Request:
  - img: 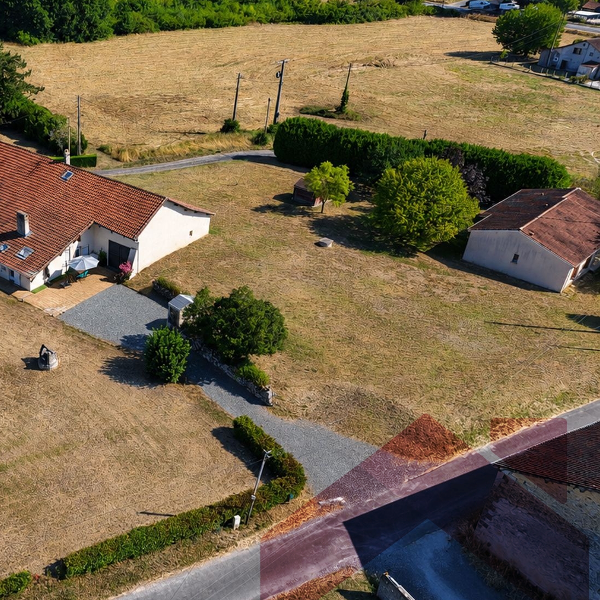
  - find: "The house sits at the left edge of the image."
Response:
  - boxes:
[0,138,215,290]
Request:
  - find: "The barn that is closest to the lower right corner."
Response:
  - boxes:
[473,423,600,600]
